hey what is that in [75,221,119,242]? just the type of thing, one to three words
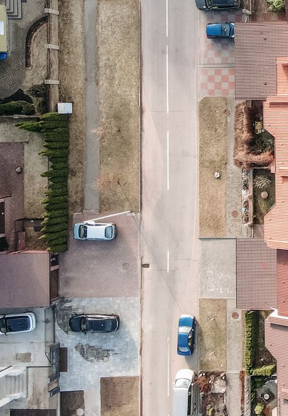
car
